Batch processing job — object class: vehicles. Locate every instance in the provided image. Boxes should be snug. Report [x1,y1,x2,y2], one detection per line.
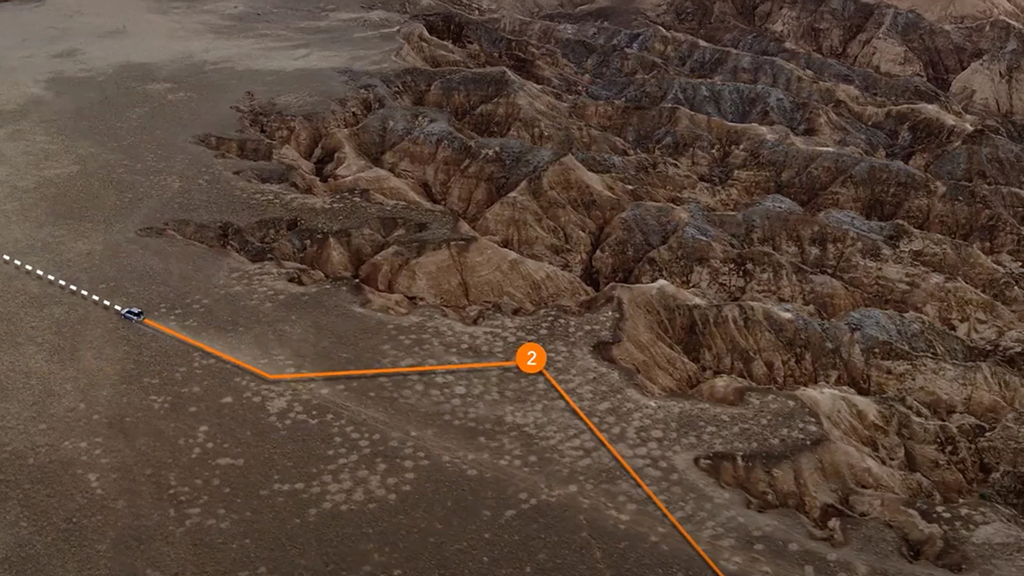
[121,307,147,322]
